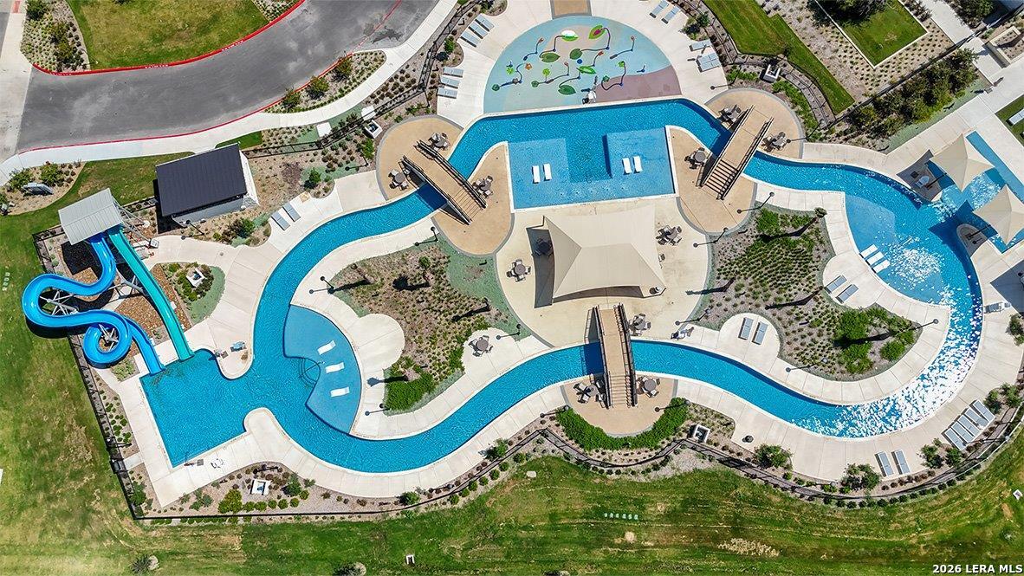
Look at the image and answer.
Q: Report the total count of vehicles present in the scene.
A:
zero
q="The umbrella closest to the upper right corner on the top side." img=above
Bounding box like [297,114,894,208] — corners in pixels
[925,133,994,192]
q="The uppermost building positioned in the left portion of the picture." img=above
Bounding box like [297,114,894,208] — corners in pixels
[156,142,258,222]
